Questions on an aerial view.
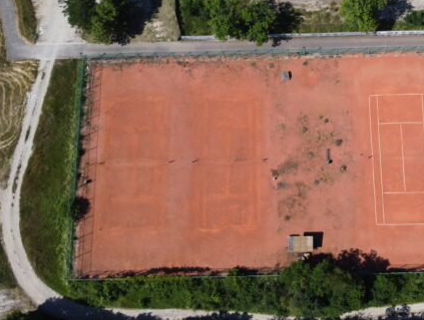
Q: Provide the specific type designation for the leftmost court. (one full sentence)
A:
Looking closely, the leftmost court is a tennis court.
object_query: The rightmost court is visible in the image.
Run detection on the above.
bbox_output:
[352,70,424,252]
